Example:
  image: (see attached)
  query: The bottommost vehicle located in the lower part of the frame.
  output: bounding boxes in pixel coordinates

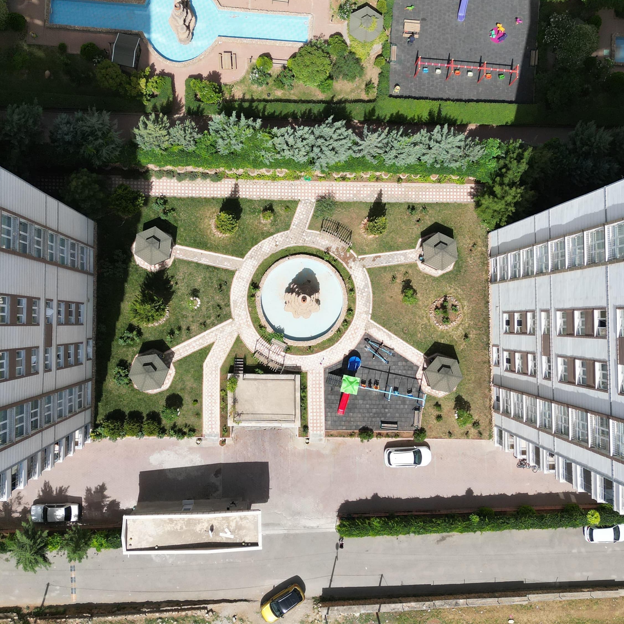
[261,581,306,624]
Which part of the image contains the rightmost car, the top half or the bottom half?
bottom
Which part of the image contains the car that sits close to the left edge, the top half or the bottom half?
bottom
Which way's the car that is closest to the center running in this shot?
from side to side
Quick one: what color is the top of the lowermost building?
white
